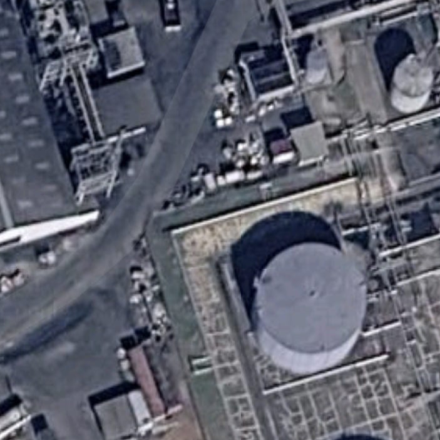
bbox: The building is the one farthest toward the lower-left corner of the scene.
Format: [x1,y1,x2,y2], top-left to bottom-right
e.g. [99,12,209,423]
[95,395,138,440]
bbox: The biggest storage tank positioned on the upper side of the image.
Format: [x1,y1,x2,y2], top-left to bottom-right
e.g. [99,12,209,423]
[388,49,434,117]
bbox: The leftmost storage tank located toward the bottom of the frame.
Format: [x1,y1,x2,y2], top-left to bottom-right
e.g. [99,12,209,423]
[248,242,369,375]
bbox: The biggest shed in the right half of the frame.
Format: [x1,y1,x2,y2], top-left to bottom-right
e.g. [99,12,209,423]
[292,121,329,170]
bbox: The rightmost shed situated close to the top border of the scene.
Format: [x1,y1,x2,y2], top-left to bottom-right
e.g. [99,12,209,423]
[100,19,145,81]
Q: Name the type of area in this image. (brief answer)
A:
industrial area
